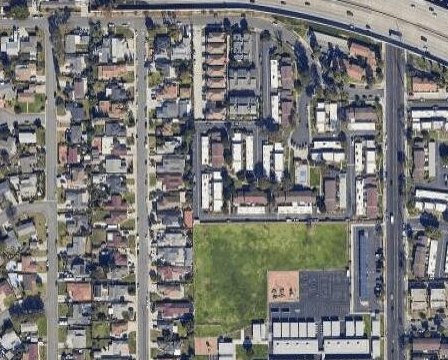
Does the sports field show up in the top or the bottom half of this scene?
bottom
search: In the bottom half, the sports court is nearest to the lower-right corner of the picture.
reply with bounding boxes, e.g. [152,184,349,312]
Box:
[299,271,350,313]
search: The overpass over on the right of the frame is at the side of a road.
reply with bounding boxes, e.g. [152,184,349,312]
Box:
[380,0,409,51]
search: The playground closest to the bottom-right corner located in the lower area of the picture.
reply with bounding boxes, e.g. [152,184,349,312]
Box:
[268,271,299,301]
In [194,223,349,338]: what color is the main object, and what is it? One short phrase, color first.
green sports field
